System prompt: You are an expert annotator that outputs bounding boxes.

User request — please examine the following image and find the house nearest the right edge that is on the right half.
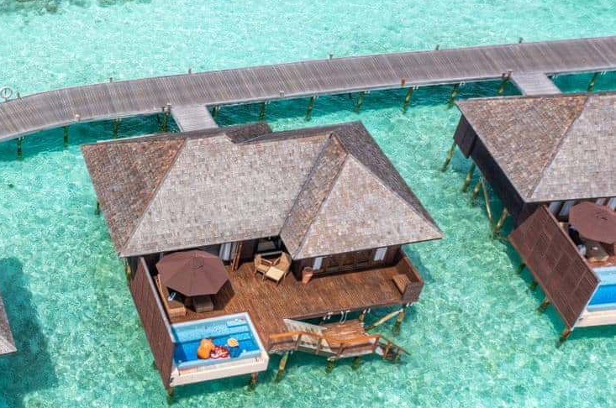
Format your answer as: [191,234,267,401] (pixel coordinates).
[449,90,616,344]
